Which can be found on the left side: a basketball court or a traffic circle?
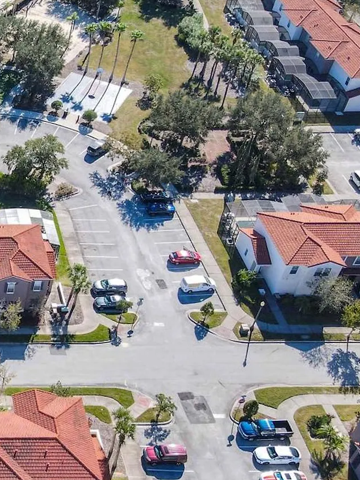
basketball court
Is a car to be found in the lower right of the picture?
Yes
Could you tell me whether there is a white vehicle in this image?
Yes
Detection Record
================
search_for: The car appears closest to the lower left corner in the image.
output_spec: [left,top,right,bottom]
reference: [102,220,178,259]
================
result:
[142,443,190,465]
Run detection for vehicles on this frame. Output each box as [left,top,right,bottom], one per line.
[258,469,306,480]
[349,172,360,191]
[354,129,360,141]
[94,295,131,311]
[144,203,178,217]
[91,277,130,295]
[252,445,302,467]
[142,443,190,465]
[82,140,112,157]
[166,250,203,266]
[177,274,218,293]
[238,417,295,441]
